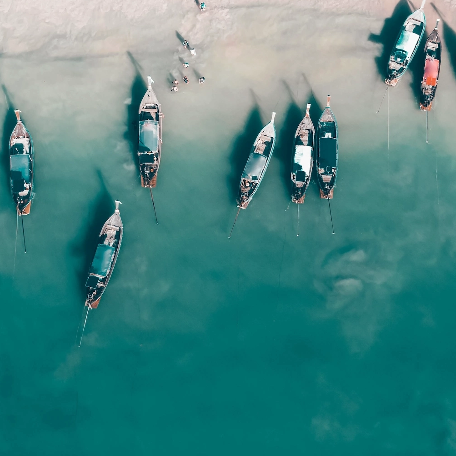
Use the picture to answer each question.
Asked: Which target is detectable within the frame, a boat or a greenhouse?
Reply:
boat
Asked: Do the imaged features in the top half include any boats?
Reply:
Yes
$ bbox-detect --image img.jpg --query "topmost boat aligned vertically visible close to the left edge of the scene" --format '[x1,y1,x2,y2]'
[10,110,36,253]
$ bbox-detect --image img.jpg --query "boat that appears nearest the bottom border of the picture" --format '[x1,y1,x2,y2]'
[78,199,125,347]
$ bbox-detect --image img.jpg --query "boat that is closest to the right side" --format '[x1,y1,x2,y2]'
[420,19,442,124]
